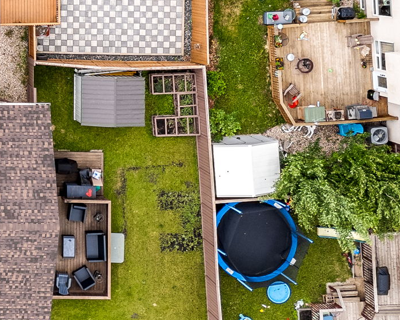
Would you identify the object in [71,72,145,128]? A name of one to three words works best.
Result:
shed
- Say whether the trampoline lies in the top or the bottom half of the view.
bottom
